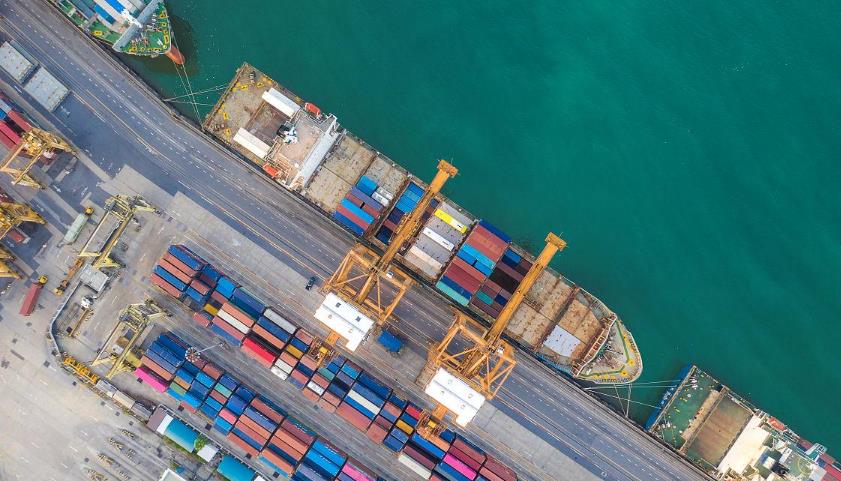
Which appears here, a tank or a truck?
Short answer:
truck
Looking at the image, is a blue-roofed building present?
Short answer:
Yes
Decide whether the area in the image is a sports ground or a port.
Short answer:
port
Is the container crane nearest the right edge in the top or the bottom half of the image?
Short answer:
bottom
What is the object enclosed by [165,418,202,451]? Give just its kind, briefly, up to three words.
building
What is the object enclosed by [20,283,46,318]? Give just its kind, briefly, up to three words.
shipping container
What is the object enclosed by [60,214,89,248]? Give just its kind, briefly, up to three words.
shipping container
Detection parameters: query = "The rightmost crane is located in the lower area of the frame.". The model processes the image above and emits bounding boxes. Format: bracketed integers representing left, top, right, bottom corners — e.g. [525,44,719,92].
[412,230,574,443]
